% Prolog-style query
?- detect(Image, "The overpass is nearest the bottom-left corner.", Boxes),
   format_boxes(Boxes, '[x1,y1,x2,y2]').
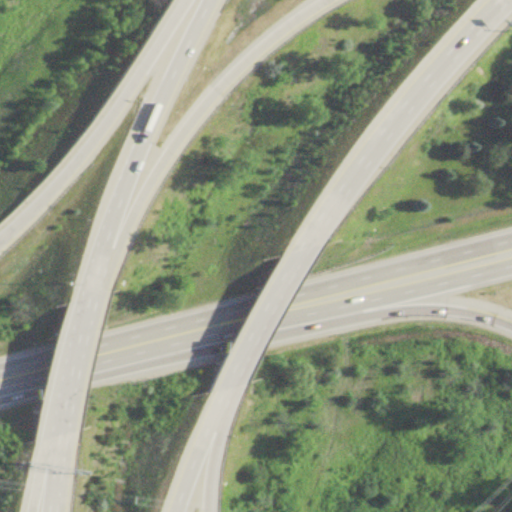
[34,303,111,443]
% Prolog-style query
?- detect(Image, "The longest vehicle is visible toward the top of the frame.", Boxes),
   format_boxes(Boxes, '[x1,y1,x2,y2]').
[142,101,164,144]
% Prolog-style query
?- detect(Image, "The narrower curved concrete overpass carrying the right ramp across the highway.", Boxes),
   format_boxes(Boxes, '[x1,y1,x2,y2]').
[210,260,318,391]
